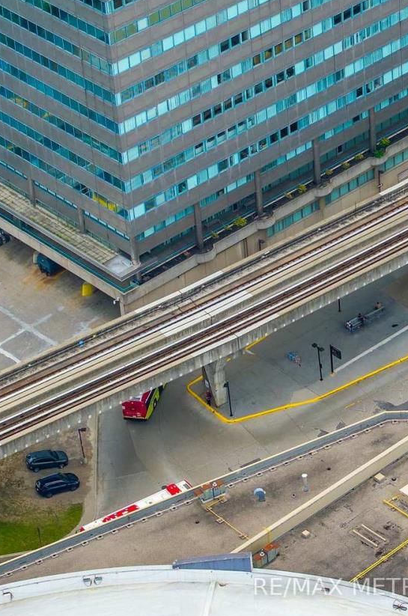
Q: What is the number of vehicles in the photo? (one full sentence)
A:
The photo contains 4 vehicles.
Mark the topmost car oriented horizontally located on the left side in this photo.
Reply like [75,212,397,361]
[23,447,70,471]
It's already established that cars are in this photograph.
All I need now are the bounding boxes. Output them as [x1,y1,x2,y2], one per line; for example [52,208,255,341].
[23,447,70,471]
[34,472,81,497]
